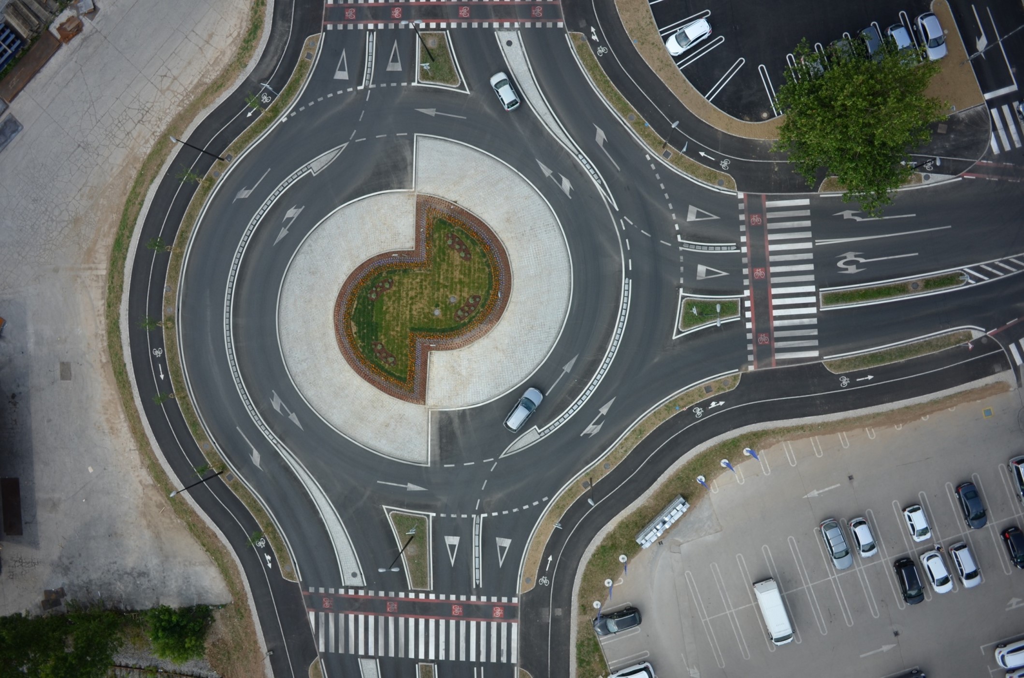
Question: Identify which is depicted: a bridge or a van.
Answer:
van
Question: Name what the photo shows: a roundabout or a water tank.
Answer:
roundabout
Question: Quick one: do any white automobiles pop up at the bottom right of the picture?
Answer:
Yes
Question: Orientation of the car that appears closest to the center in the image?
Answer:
diagonally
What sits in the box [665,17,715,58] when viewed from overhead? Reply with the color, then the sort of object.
white car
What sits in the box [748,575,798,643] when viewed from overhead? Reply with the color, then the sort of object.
white van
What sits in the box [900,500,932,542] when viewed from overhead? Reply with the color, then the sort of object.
white car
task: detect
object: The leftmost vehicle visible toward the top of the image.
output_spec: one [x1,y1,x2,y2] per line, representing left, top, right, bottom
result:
[489,69,522,115]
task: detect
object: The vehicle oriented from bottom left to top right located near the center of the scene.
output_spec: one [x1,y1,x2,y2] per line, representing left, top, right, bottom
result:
[503,387,544,434]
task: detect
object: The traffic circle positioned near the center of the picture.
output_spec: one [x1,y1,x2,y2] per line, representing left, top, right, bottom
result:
[223,30,631,587]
